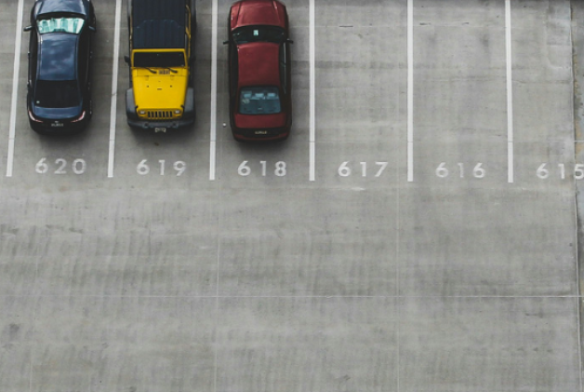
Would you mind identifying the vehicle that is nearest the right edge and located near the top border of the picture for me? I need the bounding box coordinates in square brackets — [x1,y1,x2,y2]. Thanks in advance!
[221,0,299,140]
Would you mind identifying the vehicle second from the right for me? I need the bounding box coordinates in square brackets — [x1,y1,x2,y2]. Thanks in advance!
[124,0,198,132]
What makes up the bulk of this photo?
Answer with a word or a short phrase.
paved ground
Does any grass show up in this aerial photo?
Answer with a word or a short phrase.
No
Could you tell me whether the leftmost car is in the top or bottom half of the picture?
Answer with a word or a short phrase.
top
